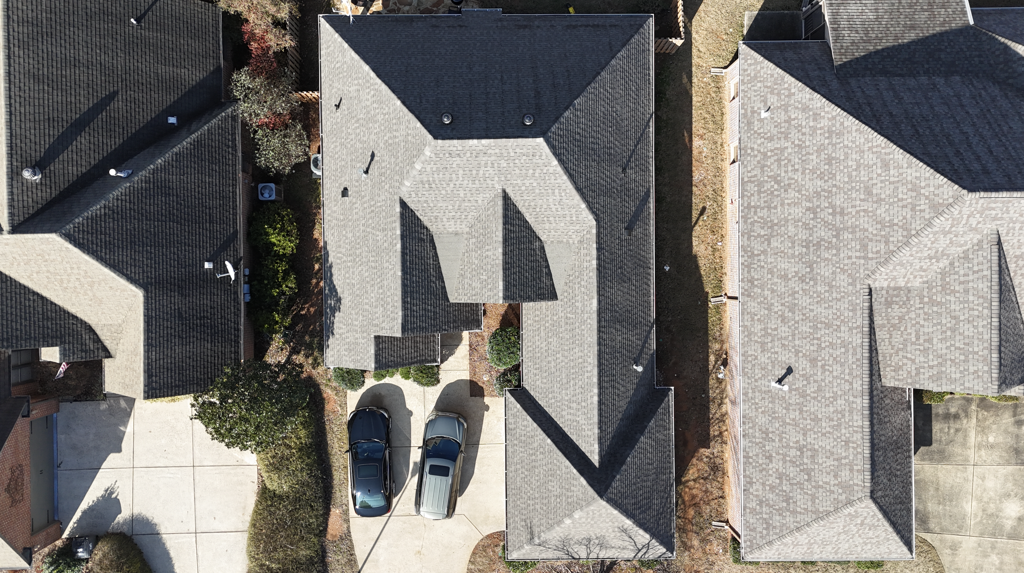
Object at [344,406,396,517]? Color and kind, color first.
black car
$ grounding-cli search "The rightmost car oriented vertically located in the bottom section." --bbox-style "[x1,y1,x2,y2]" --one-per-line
[416,411,469,518]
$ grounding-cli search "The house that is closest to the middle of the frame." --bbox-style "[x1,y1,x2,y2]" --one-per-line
[319,8,676,561]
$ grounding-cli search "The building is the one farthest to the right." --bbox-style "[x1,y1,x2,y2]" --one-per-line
[723,0,1024,561]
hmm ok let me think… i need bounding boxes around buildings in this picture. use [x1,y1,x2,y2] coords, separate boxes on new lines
[723,0,1024,561]
[319,8,676,561]
[0,0,251,567]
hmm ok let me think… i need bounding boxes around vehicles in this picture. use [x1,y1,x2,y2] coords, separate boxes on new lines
[416,411,469,518]
[344,406,396,517]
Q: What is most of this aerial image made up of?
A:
buildings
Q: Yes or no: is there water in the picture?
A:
No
